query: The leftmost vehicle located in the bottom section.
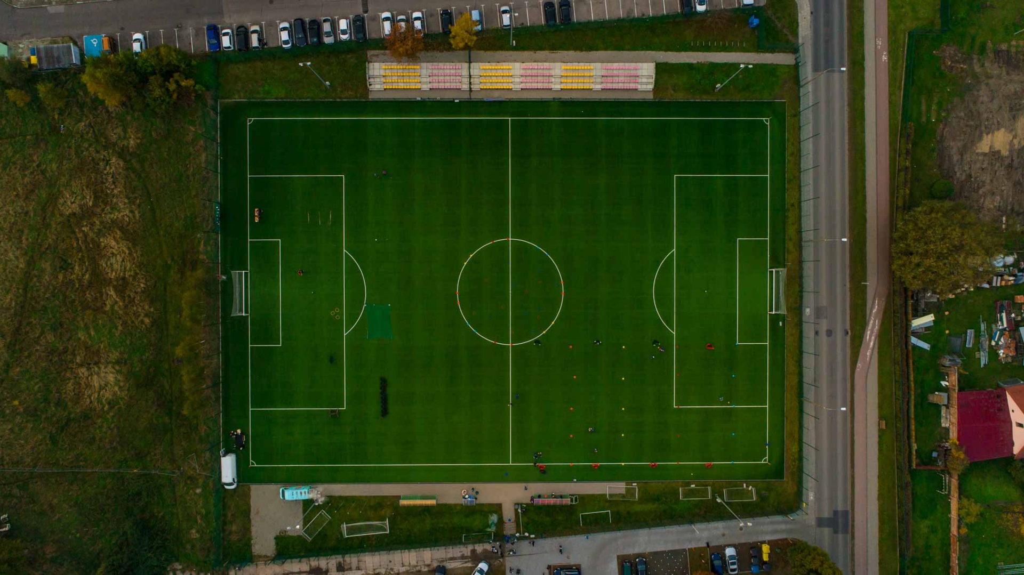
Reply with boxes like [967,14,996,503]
[220,448,239,486]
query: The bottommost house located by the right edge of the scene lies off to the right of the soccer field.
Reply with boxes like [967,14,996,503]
[949,378,1024,462]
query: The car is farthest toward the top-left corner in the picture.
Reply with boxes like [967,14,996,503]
[101,34,115,57]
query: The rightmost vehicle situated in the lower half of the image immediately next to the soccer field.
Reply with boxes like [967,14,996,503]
[278,482,313,500]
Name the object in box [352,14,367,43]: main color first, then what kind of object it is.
black car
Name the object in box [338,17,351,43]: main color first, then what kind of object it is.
white vehicle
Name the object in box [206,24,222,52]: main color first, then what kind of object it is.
blue car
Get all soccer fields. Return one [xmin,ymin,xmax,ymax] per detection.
[220,100,785,484]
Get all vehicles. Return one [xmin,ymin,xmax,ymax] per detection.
[471,8,483,33]
[293,17,309,48]
[352,14,367,43]
[220,29,235,52]
[338,17,351,43]
[131,32,147,56]
[440,8,452,35]
[472,557,490,575]
[308,19,322,46]
[434,564,446,575]
[724,545,738,575]
[695,0,708,15]
[543,1,556,28]
[411,11,425,38]
[558,0,571,25]
[206,24,222,52]
[234,24,250,53]
[248,24,263,52]
[278,21,293,50]
[322,16,336,46]
[278,482,313,500]
[101,34,115,57]
[681,0,694,18]
[220,448,239,486]
[635,556,648,575]
[710,550,724,575]
[380,11,393,39]
[500,6,512,30]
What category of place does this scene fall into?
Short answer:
sports ground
